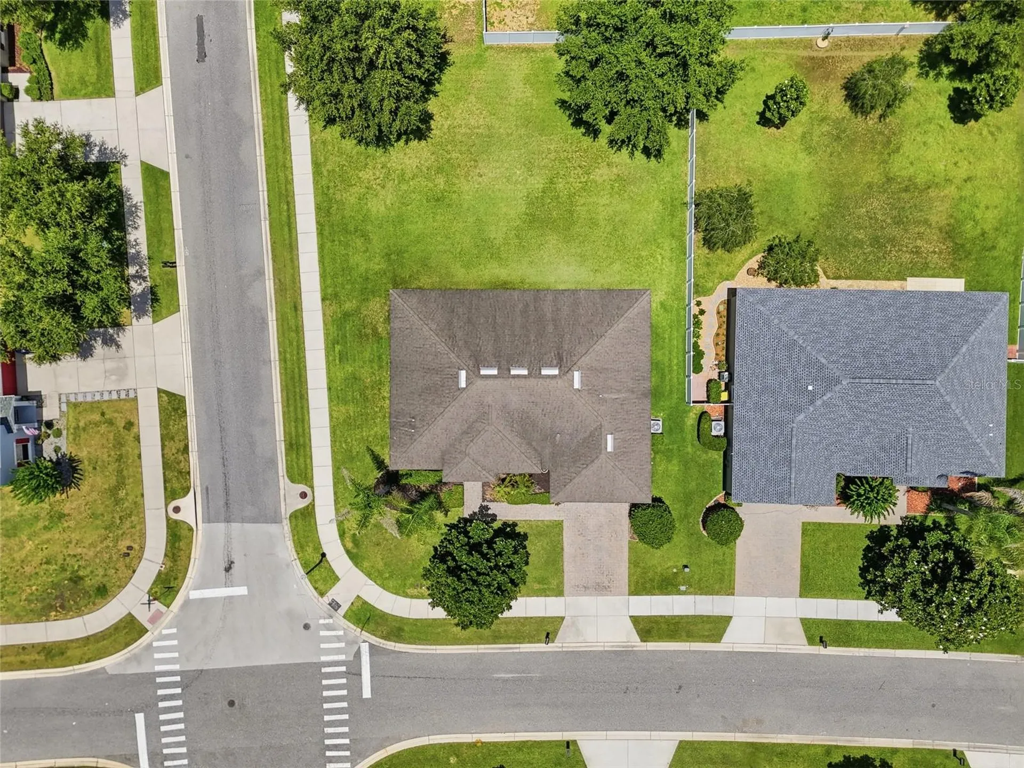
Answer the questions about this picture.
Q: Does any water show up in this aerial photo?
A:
No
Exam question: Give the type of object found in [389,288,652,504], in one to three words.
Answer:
house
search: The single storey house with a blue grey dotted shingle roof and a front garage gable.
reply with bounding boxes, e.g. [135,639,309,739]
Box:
[727,288,1009,505]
